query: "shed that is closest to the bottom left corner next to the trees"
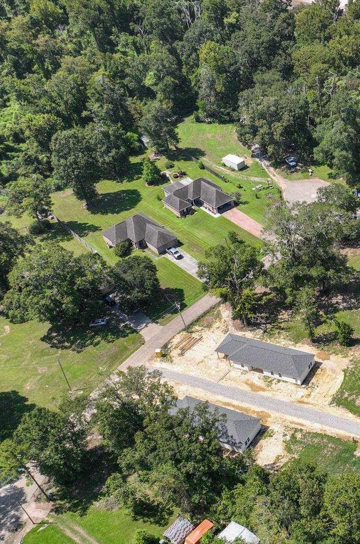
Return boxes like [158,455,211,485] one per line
[164,519,194,544]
